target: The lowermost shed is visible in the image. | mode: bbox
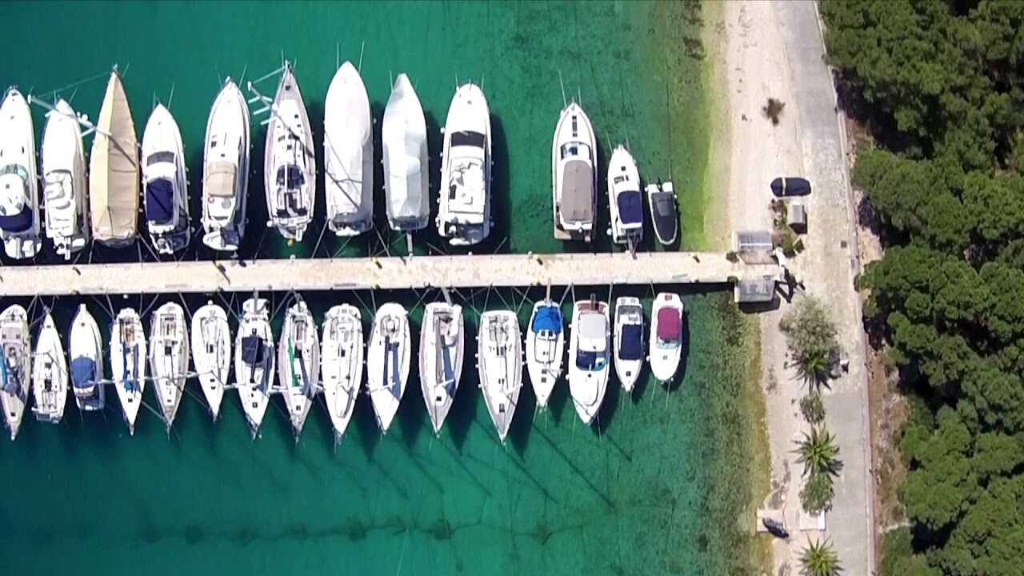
[726,278,774,304]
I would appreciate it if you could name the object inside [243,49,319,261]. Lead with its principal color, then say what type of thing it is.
white boat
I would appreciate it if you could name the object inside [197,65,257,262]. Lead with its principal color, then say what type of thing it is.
white boat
